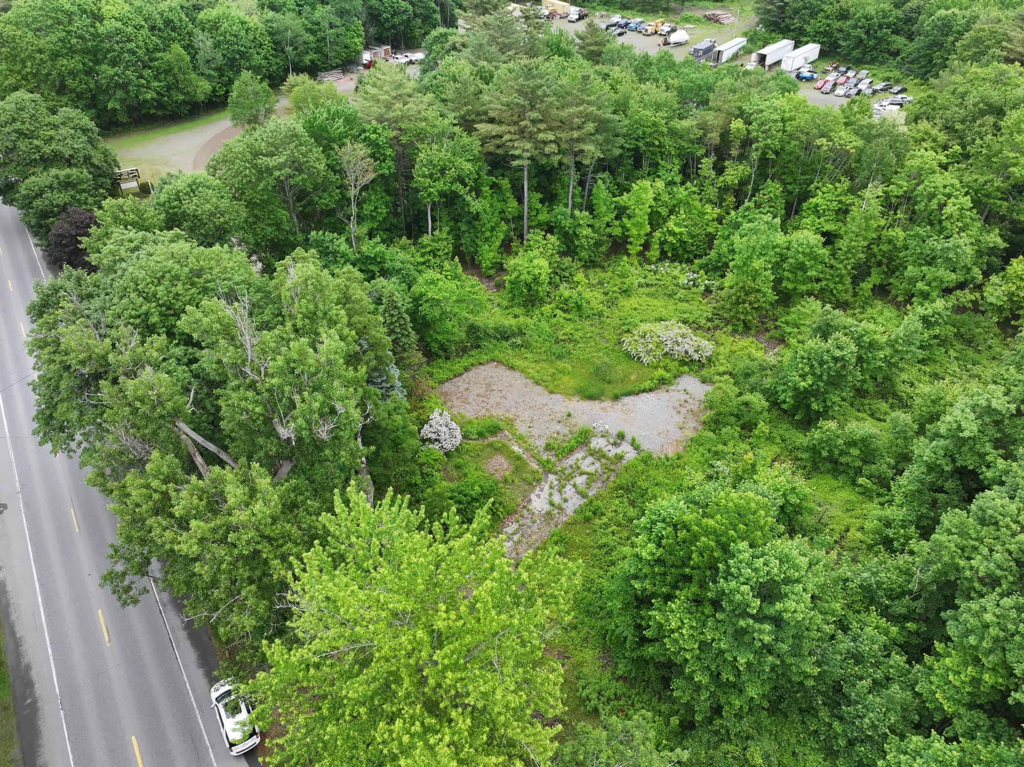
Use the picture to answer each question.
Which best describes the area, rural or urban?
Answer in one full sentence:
The area is rural.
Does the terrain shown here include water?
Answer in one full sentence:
No, water can't be seen anywhere here.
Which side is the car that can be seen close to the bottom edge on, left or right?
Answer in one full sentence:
The car that can be seen close to the bottom edge appears in the left half of the scene.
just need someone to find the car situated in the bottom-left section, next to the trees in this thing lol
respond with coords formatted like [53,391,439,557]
[213,689,265,758]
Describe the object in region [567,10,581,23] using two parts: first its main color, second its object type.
white vehicle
